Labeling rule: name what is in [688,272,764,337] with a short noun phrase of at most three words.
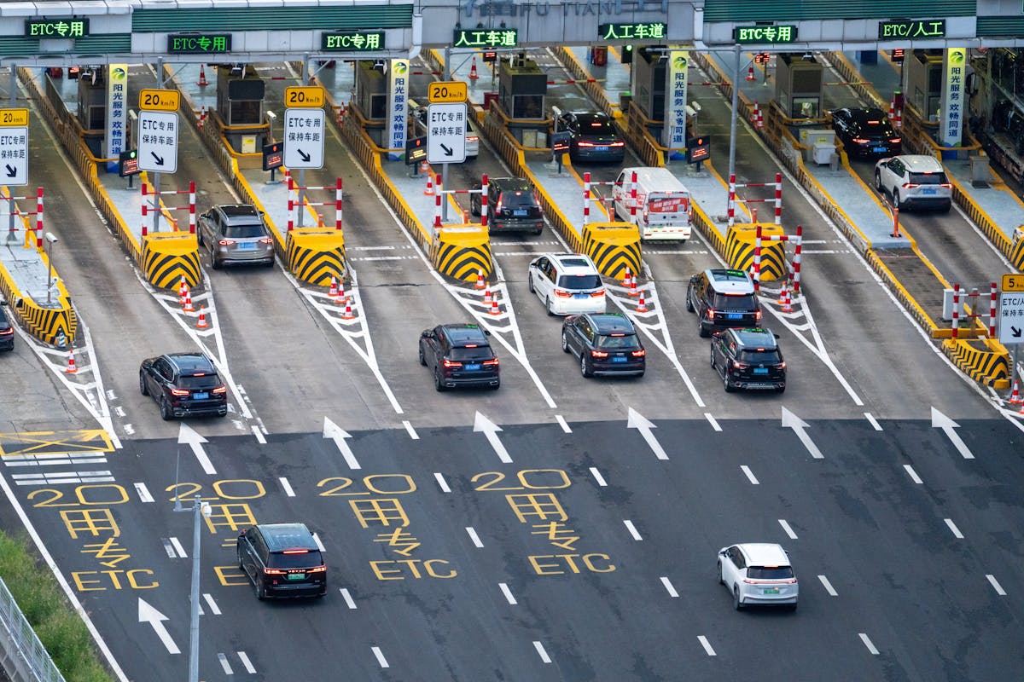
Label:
car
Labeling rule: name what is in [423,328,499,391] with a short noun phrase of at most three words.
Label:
car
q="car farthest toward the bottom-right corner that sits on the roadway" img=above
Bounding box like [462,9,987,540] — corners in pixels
[720,546,799,611]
